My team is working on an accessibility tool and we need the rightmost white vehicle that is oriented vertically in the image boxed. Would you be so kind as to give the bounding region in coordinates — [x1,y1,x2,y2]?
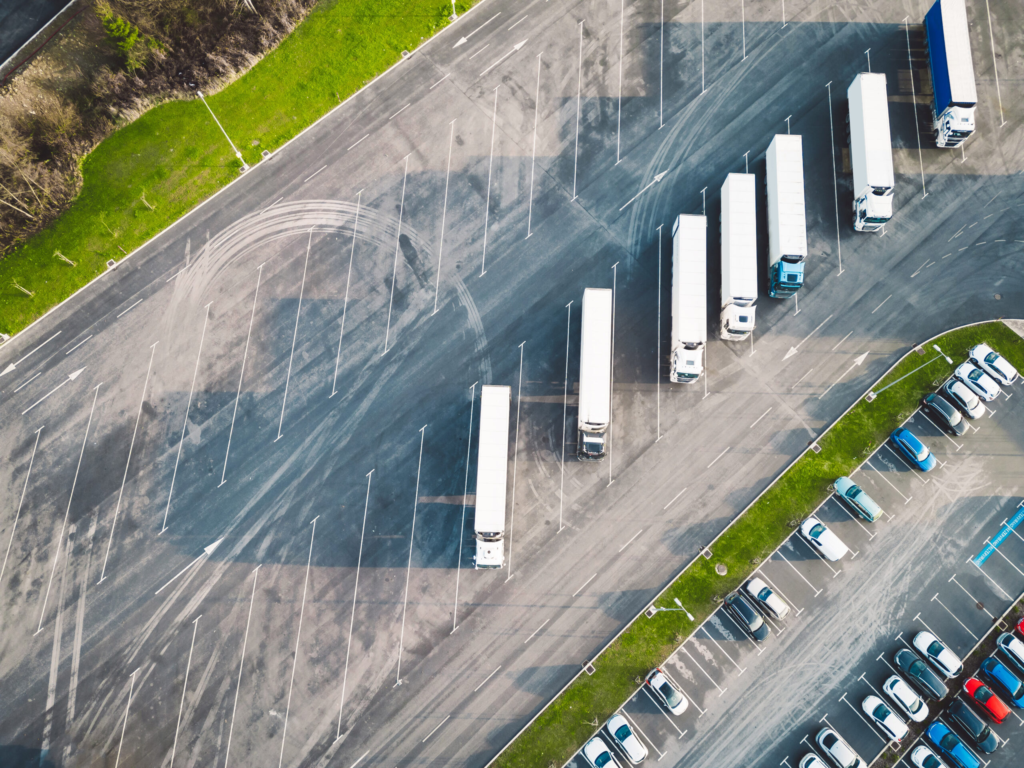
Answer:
[923,0,978,148]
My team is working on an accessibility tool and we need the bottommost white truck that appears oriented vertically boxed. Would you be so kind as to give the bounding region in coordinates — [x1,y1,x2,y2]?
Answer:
[471,383,511,570]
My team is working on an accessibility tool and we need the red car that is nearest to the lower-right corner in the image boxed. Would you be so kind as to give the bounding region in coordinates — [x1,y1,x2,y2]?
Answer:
[963,679,1012,725]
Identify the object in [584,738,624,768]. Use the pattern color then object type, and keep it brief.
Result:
white car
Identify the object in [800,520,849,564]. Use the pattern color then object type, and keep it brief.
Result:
white vehicle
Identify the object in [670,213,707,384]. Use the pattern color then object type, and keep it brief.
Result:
white truck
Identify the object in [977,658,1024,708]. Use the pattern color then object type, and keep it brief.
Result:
blue car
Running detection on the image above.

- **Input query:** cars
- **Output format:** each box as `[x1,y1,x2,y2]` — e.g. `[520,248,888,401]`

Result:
[584,738,624,768]
[929,722,983,768]
[645,670,687,715]
[833,477,882,523]
[969,346,1018,387]
[977,658,1024,708]
[861,695,910,744]
[954,364,1000,403]
[814,726,864,768]
[881,675,927,722]
[920,392,967,435]
[941,381,984,419]
[894,649,949,702]
[963,679,1012,725]
[796,752,826,768]
[888,428,935,472]
[911,747,947,768]
[746,577,791,622]
[722,592,769,641]
[993,632,1024,678]
[606,714,650,765]
[944,698,998,753]
[1013,621,1024,644]
[913,632,964,679]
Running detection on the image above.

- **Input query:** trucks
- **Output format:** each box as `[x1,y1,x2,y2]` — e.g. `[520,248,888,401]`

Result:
[670,213,707,384]
[764,134,808,298]
[923,0,978,148]
[575,286,612,464]
[471,383,511,570]
[846,72,894,230]
[719,173,757,340]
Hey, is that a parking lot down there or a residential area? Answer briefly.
parking lot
